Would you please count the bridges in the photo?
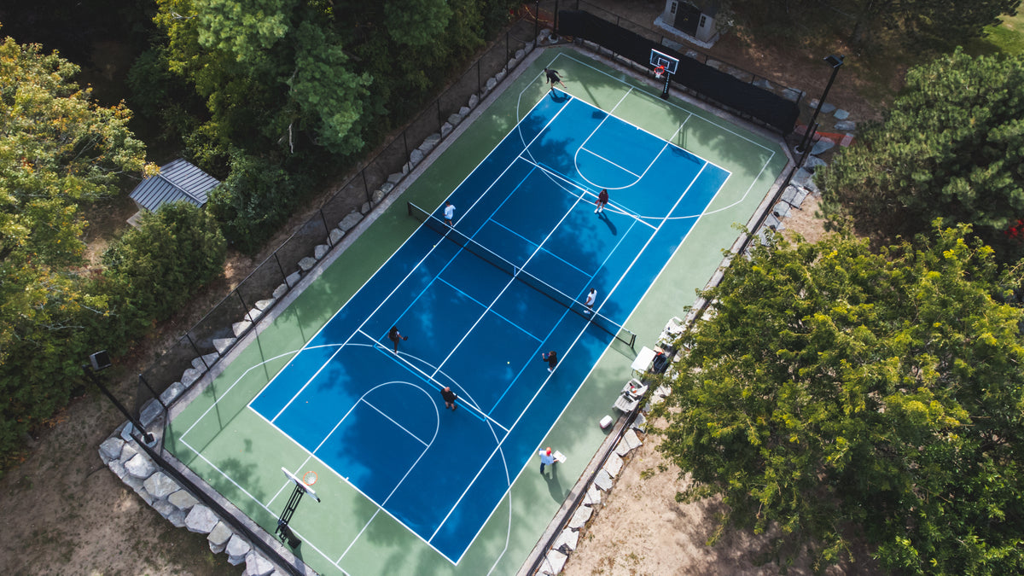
0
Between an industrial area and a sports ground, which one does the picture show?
sports ground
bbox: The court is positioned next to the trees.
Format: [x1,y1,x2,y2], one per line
[158,48,793,576]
